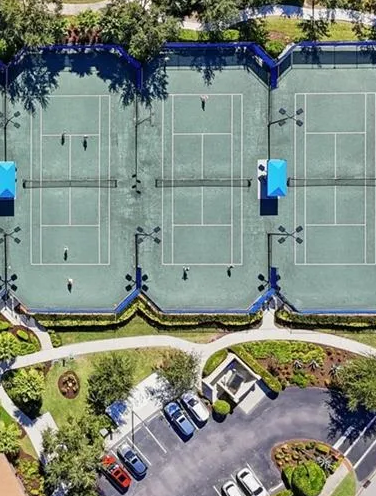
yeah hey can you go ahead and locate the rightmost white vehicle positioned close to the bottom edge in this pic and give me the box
[237,466,264,496]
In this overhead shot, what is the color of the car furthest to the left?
red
